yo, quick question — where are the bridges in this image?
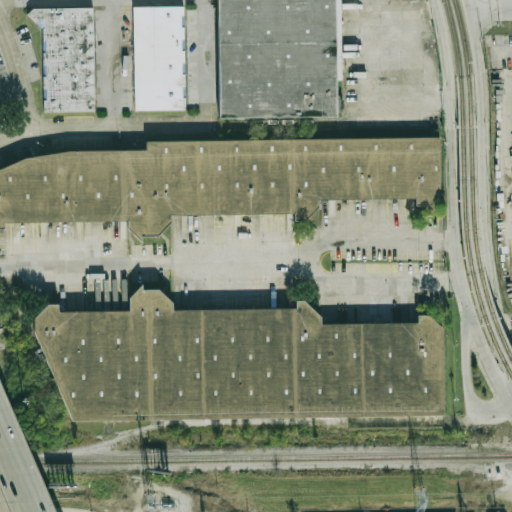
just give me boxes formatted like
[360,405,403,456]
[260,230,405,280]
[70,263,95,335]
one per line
[0,382,58,512]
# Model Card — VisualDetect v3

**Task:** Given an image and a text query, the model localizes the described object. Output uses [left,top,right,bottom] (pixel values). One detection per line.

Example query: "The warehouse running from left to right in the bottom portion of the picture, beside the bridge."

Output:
[35,285,445,422]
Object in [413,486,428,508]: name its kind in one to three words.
pylon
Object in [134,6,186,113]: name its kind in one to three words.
building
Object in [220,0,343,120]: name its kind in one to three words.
warehouse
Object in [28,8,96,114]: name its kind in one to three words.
building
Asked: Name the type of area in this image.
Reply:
industrial area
